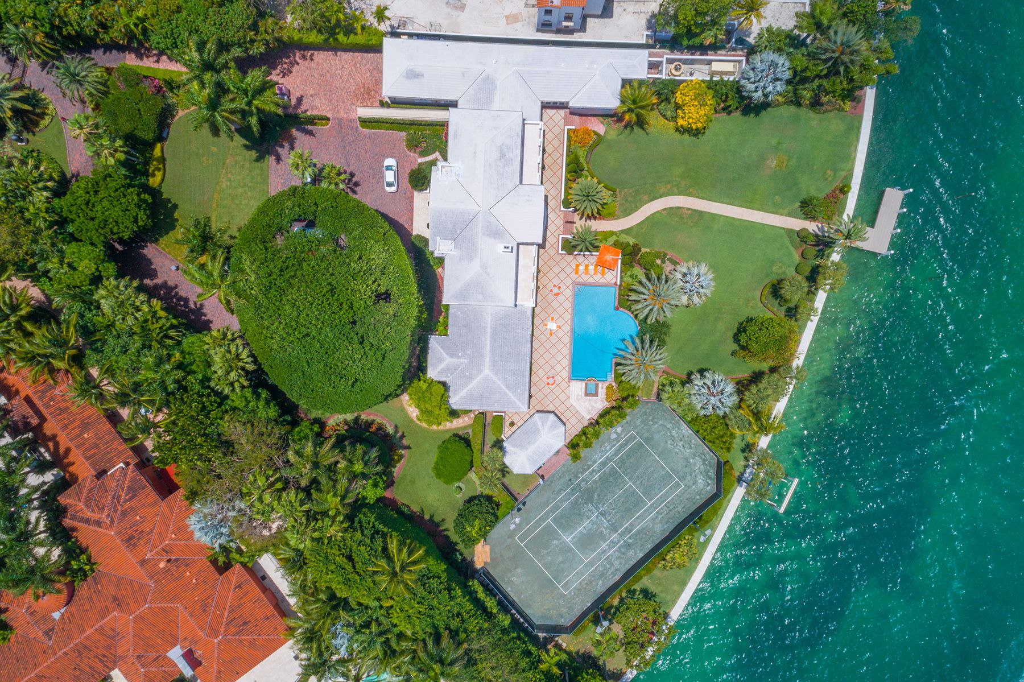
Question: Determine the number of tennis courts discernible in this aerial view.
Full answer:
I count 1 tennis court.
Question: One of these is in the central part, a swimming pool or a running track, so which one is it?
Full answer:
The feature located in the central part is a swimming pool.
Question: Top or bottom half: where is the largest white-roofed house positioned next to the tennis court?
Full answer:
The largest white-roofed house positioned next to the tennis court is in the top half of the image.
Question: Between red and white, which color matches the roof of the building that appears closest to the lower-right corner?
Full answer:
From above, the roof of the building that appears closest to the lower-right corner appears white.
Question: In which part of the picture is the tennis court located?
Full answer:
The tennis court is located in the bottom region of the scene.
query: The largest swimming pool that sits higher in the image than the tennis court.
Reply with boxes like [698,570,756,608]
[569,282,640,383]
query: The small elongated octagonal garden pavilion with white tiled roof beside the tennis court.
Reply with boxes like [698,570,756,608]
[503,412,566,474]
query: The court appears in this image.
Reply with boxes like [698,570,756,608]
[483,399,716,625]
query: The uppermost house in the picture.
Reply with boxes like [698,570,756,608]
[536,0,604,33]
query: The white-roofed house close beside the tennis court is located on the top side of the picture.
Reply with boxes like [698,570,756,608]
[383,38,648,410]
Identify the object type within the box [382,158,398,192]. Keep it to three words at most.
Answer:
car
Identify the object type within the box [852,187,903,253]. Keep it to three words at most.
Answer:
pier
